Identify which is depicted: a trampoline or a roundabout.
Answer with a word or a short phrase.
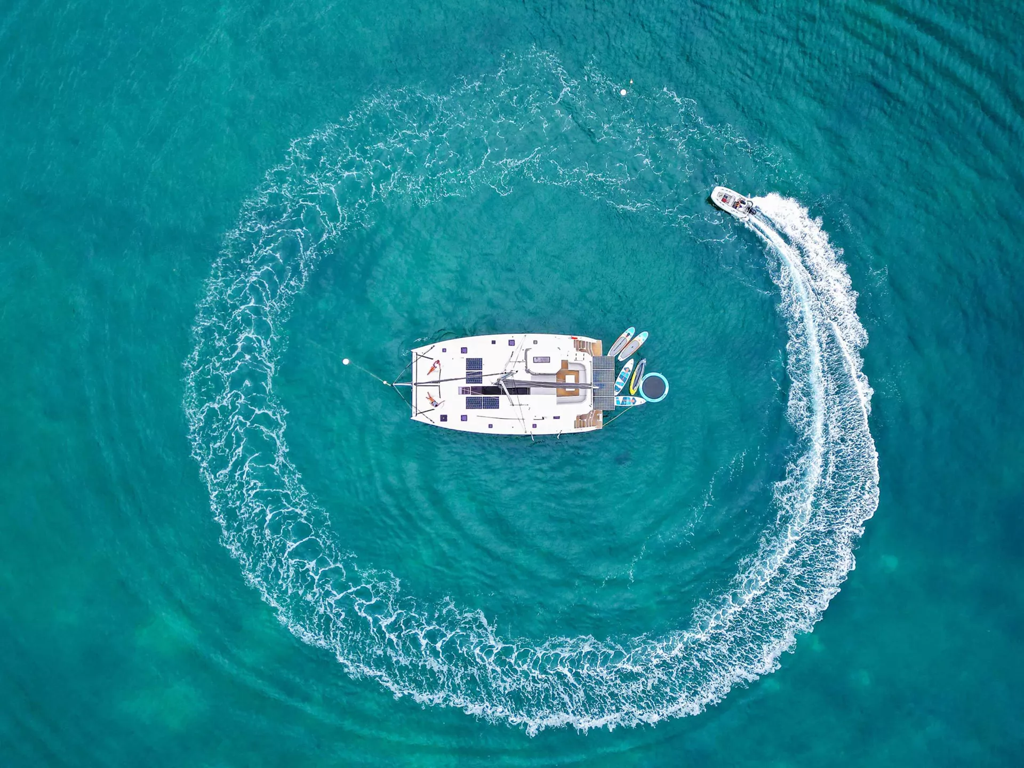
trampoline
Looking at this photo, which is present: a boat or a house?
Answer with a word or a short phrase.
boat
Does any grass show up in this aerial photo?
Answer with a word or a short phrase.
No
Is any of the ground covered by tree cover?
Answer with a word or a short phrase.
No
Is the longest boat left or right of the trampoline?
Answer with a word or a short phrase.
on the left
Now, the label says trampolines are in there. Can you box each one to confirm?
[640,373,669,402]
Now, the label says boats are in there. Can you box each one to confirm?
[630,358,647,395]
[714,188,757,219]
[392,333,615,436]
